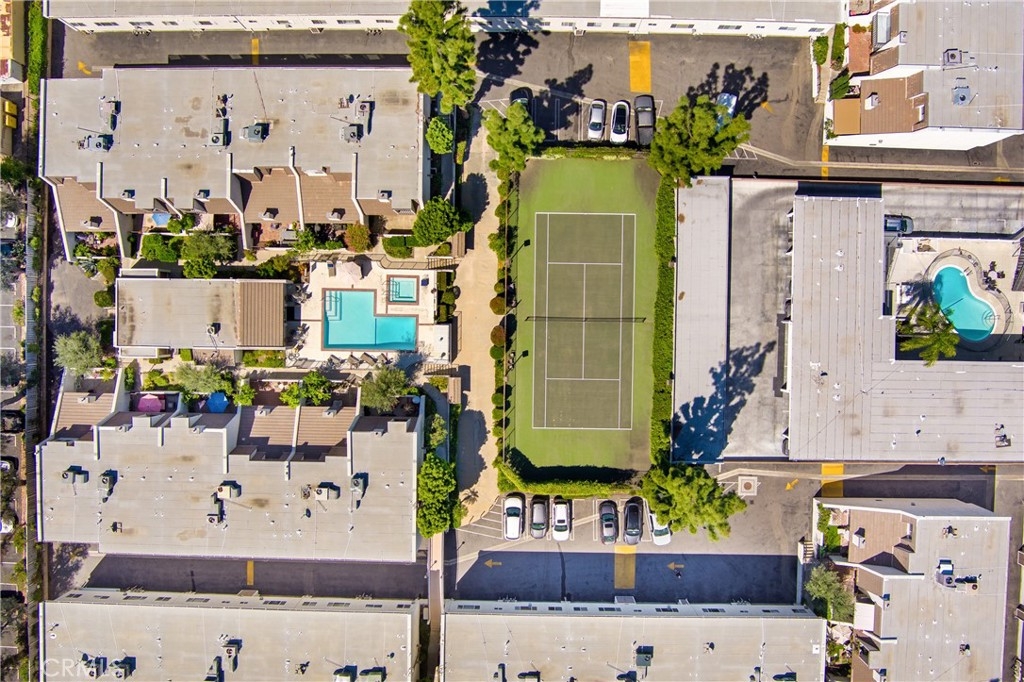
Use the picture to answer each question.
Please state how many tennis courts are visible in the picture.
1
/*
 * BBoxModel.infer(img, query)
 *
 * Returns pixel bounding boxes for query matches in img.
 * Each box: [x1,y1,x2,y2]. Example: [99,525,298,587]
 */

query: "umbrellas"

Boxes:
[339,255,366,283]
[208,391,231,411]
[152,215,171,227]
[828,620,847,640]
[142,390,163,411]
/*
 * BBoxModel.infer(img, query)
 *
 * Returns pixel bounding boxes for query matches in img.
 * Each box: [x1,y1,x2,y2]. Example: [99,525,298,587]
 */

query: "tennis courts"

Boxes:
[507,157,660,486]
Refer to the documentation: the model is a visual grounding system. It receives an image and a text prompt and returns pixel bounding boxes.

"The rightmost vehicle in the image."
[884,212,915,234]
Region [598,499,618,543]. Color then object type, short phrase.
gray car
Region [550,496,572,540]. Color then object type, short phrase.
white car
